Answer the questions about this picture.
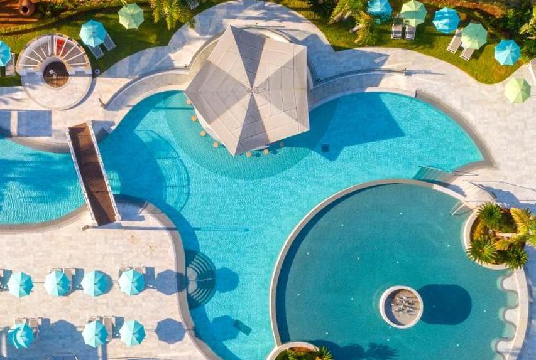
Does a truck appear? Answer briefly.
No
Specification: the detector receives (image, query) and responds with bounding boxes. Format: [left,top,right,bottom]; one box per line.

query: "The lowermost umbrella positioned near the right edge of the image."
[502,76,529,102]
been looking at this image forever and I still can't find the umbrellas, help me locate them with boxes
[118,2,145,29]
[8,322,35,348]
[401,0,425,25]
[46,269,71,294]
[492,40,520,66]
[119,320,145,346]
[461,25,485,49]
[81,21,107,47]
[84,269,108,294]
[502,76,529,102]
[0,42,11,67]
[82,320,110,347]
[8,269,35,296]
[366,0,391,22]
[118,267,145,294]
[431,8,457,34]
